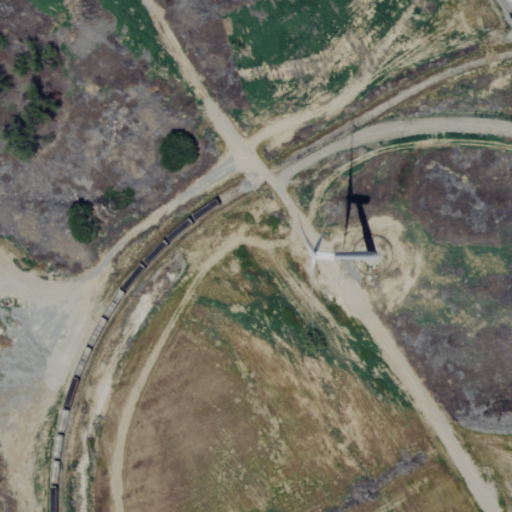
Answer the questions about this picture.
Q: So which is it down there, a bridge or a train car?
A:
train car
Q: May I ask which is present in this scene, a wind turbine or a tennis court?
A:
wind turbine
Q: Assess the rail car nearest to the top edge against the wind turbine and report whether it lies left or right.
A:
on the left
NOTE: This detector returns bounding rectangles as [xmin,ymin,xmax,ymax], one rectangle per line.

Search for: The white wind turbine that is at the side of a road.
[300,212,384,336]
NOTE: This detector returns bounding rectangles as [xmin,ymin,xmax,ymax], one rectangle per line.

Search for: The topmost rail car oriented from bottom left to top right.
[190,198,222,221]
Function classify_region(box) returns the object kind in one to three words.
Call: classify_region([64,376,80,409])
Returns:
rail car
